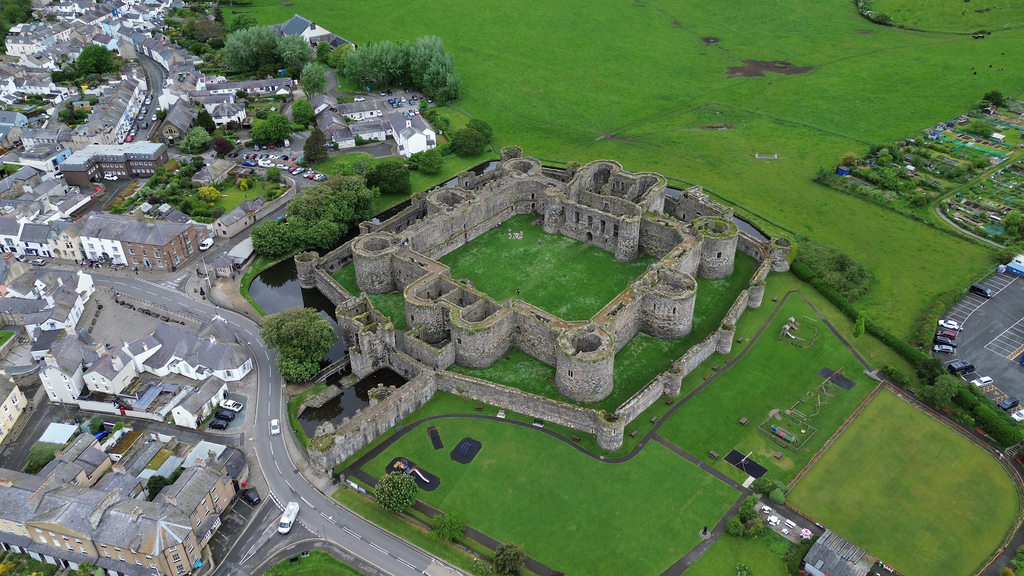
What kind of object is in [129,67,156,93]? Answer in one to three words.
house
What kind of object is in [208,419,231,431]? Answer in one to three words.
vehicle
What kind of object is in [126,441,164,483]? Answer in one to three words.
shed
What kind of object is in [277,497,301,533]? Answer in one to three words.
vehicle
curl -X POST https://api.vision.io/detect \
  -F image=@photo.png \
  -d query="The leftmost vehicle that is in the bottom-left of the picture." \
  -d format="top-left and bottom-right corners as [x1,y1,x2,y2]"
[94,425,115,441]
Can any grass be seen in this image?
Yes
